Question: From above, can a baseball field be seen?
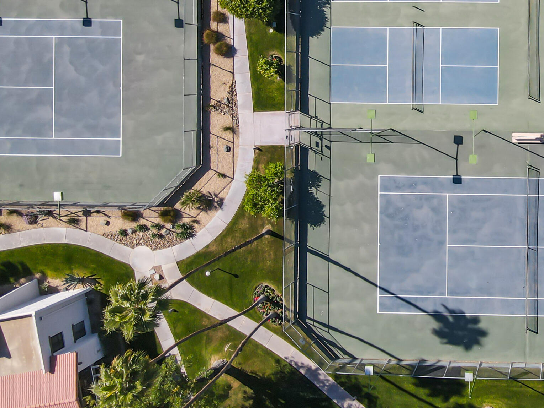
No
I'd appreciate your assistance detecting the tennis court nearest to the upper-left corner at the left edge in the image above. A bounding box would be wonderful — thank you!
[0,19,121,156]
